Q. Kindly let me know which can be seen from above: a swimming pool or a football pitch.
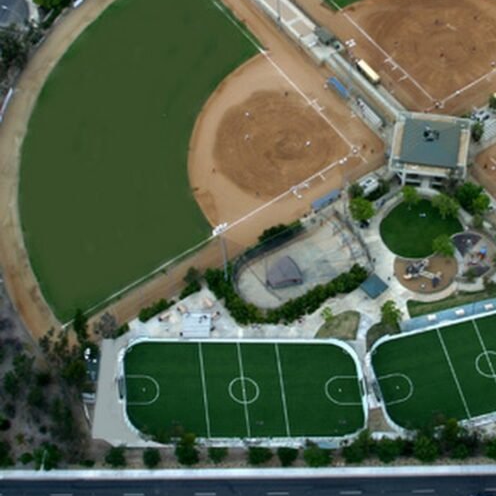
football pitch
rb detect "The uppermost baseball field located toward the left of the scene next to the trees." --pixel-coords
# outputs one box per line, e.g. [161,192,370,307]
[20,0,368,330]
